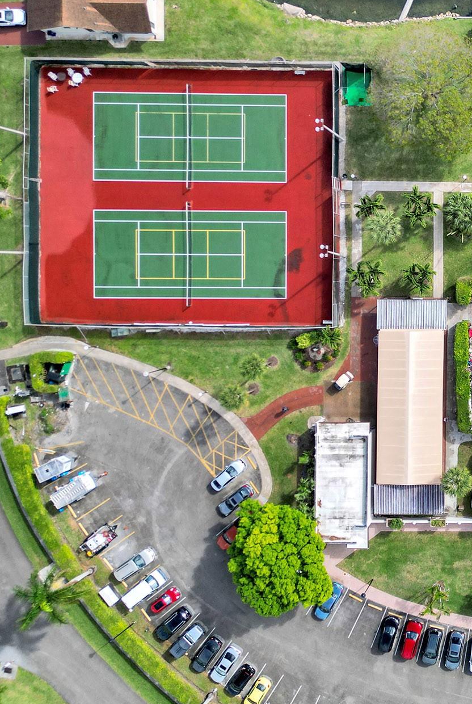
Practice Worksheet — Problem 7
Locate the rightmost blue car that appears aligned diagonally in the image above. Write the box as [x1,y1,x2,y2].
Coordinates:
[314,580,345,621]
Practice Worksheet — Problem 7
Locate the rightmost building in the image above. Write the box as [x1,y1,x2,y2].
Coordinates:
[373,299,447,514]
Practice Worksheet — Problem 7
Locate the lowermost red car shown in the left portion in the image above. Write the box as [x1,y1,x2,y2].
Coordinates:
[149,586,183,615]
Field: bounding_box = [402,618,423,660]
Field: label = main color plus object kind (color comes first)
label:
red car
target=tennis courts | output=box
[92,202,286,305]
[92,83,286,190]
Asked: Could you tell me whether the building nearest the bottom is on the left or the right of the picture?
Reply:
right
